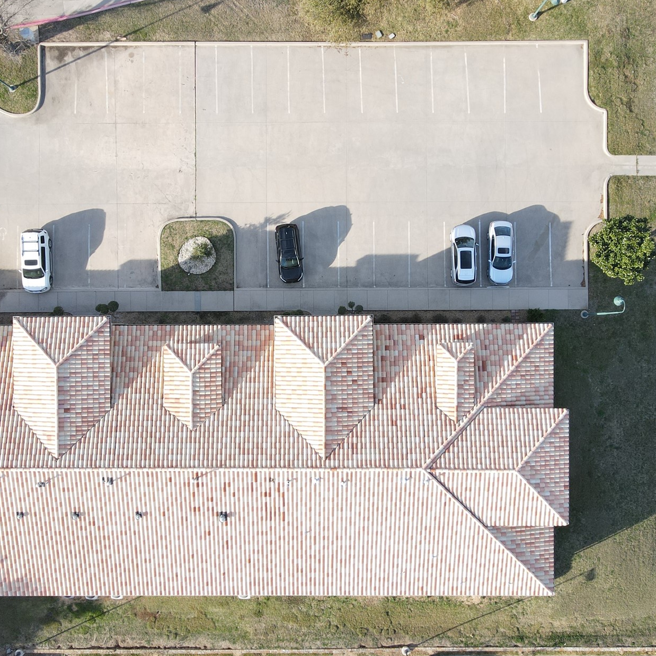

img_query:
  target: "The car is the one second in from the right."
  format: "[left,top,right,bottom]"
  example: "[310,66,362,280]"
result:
[448,225,480,286]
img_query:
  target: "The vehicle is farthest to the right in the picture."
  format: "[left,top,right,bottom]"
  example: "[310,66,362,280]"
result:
[485,221,516,285]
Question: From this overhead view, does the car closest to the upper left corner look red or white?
white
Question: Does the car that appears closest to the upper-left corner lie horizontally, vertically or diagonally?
vertically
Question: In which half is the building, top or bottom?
bottom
